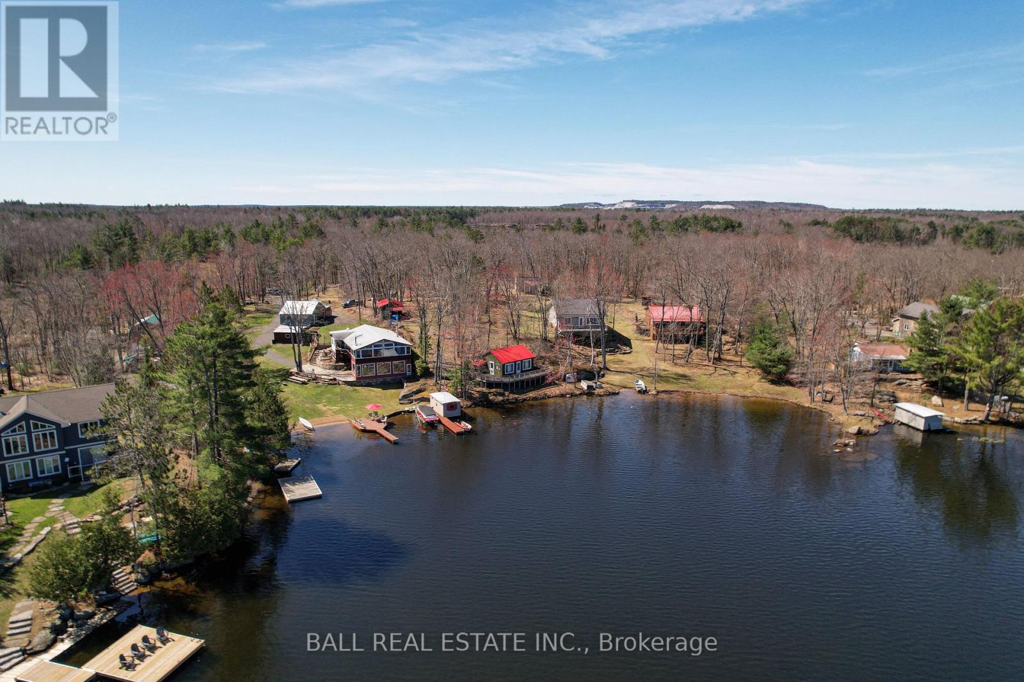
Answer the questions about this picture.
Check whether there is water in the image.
Yes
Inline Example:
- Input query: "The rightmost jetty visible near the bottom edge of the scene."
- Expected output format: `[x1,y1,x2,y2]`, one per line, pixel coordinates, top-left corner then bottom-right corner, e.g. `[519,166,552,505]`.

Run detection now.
[81,624,214,682]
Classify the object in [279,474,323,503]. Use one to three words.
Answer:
pier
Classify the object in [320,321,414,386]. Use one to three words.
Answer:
house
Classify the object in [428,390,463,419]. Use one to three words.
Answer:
building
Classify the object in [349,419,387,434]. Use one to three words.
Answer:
pier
